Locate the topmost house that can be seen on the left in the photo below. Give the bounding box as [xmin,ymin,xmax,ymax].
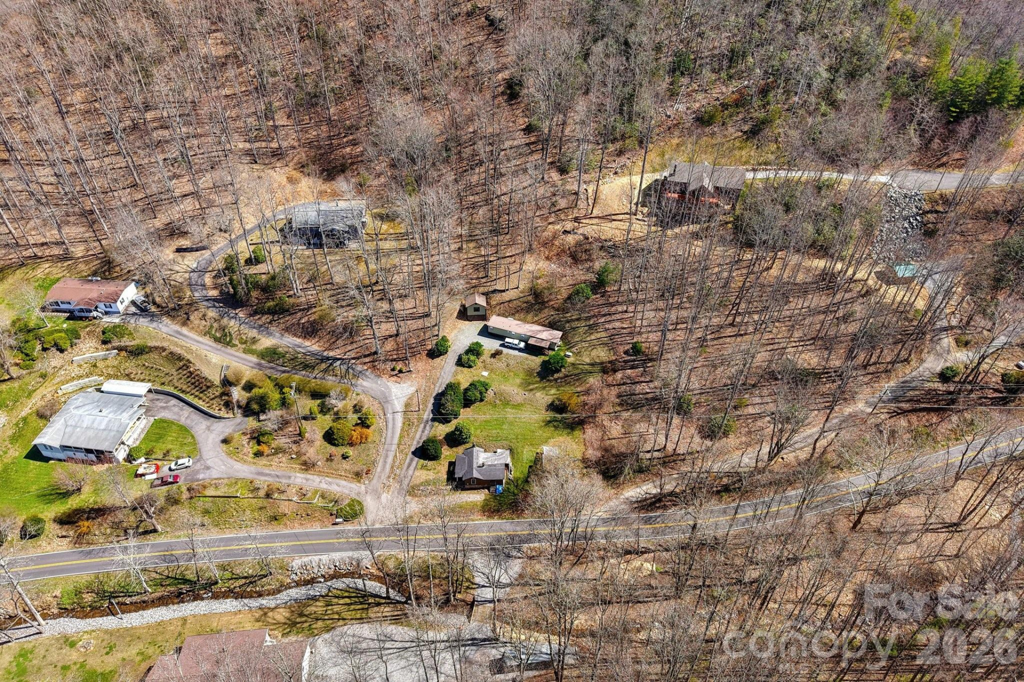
[288,202,368,253]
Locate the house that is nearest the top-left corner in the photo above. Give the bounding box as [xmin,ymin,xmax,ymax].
[43,279,141,316]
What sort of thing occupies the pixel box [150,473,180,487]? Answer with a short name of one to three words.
vehicle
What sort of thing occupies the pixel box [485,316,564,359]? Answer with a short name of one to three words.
house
